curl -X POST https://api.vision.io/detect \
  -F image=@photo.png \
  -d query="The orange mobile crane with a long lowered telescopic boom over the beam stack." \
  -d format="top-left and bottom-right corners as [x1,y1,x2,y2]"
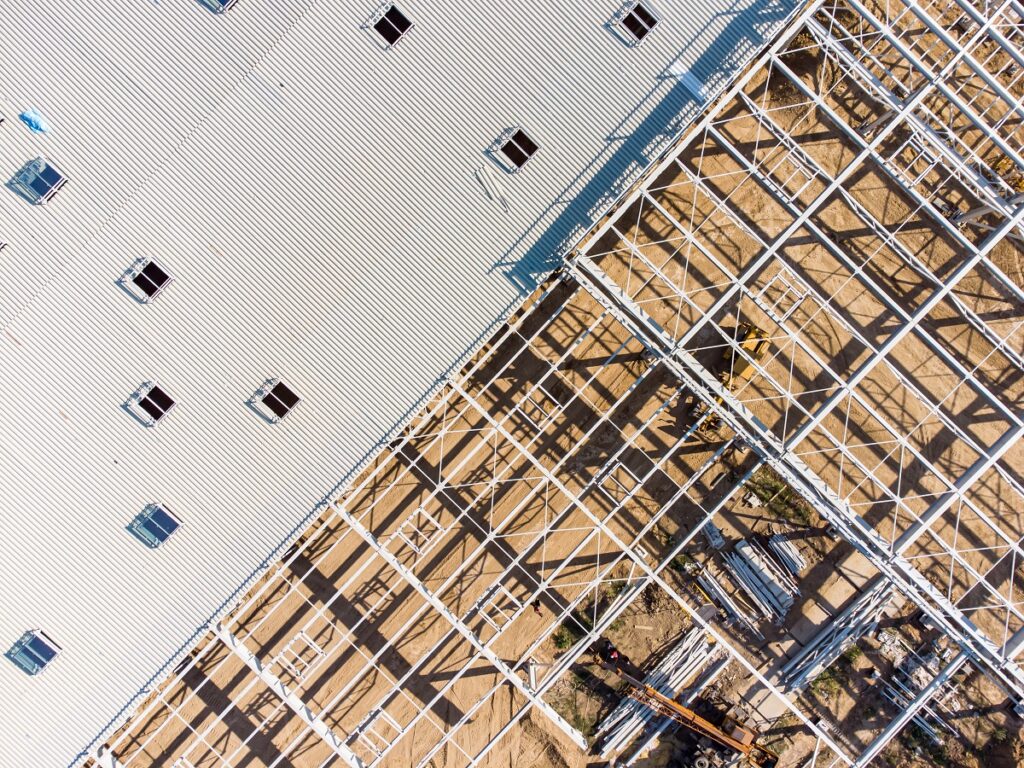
[592,649,777,768]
